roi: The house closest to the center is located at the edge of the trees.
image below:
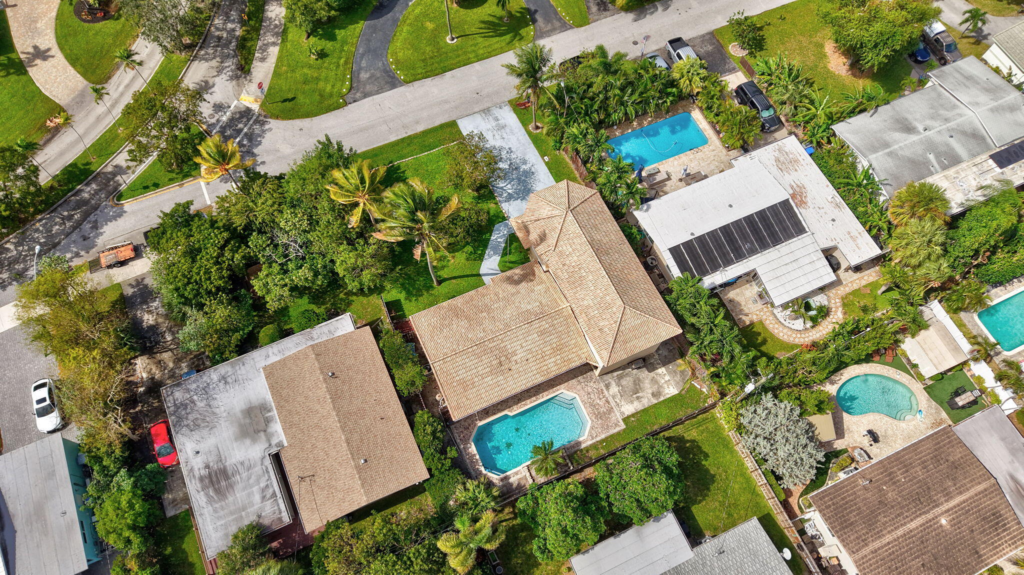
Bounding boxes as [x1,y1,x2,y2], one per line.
[410,178,684,422]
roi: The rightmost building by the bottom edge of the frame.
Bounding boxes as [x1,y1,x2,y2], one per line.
[808,405,1024,575]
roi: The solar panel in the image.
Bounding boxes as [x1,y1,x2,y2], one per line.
[989,141,1024,169]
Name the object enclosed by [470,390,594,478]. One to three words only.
swimming pool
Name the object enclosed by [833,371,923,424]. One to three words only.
swimming pool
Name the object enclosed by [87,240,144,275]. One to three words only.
trailer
